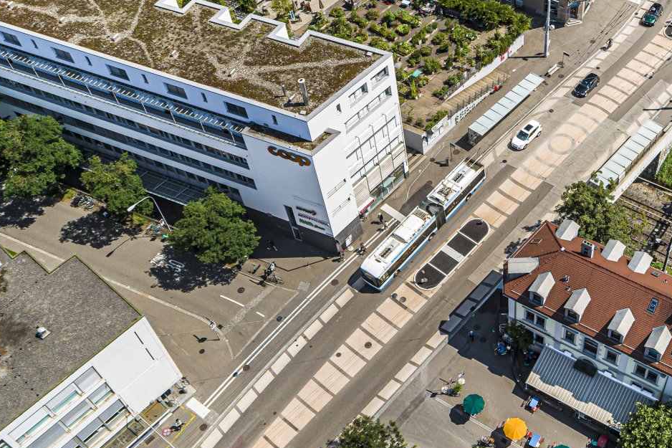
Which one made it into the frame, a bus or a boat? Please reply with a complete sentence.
Looking from above, you can make out a bus.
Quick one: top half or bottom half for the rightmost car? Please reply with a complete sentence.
The rightmost car sits in the top half of the picture.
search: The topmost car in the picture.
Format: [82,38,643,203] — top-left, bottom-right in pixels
[642,2,664,24]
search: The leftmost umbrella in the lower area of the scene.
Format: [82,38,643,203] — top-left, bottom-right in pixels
[460,393,487,420]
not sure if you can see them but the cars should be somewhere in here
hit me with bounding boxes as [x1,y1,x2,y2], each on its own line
[642,2,664,24]
[510,118,543,148]
[572,72,603,97]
